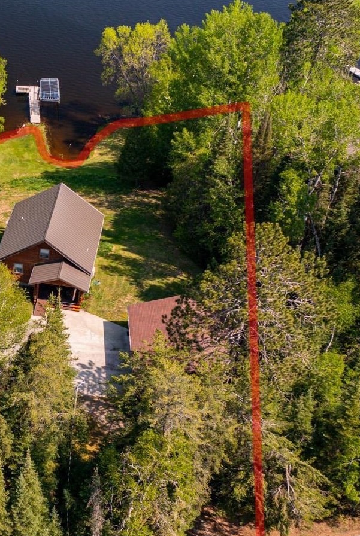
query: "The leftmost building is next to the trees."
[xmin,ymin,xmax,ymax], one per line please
[0,182,104,323]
